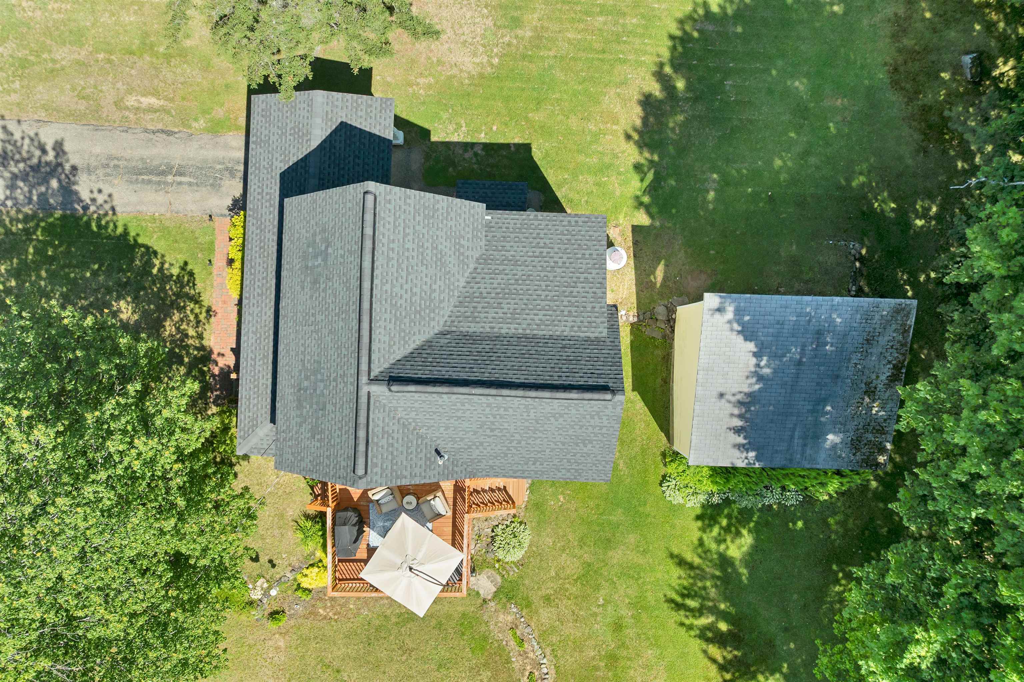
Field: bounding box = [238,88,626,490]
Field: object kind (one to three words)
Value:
house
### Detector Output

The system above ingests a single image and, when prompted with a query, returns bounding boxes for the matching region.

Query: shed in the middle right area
[670,293,916,472]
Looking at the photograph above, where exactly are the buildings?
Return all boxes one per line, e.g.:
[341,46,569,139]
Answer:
[238,88,626,490]
[670,293,916,472]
